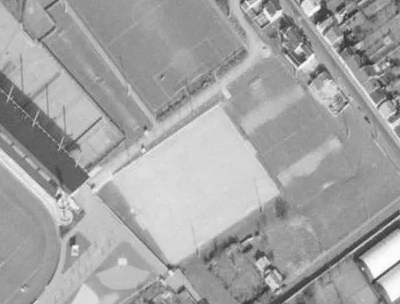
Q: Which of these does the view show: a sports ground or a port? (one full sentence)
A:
It's a sports ground.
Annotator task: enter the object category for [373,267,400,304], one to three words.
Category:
shed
